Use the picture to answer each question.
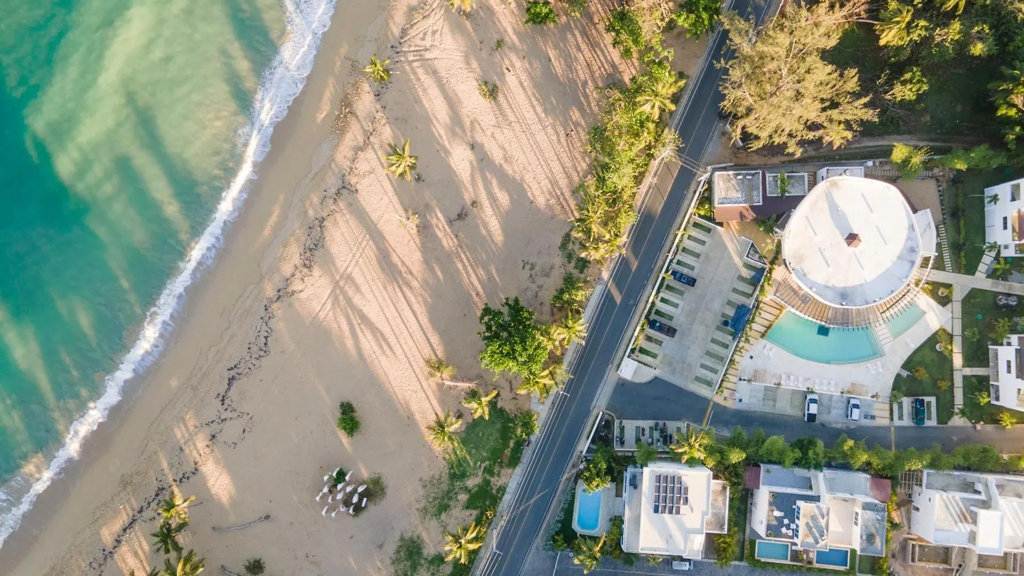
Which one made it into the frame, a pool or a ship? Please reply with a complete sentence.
The image shows a pool.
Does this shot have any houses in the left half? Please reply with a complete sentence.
No, there is no house in the left half.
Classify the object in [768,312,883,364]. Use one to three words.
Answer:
swimming pool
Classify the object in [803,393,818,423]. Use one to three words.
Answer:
car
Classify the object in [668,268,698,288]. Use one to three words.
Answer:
car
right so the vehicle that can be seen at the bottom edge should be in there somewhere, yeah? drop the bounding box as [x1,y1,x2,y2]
[670,558,693,571]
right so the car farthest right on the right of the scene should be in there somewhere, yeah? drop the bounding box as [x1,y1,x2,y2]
[910,397,926,426]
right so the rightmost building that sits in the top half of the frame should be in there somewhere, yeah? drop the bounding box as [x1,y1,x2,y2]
[983,179,1024,257]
